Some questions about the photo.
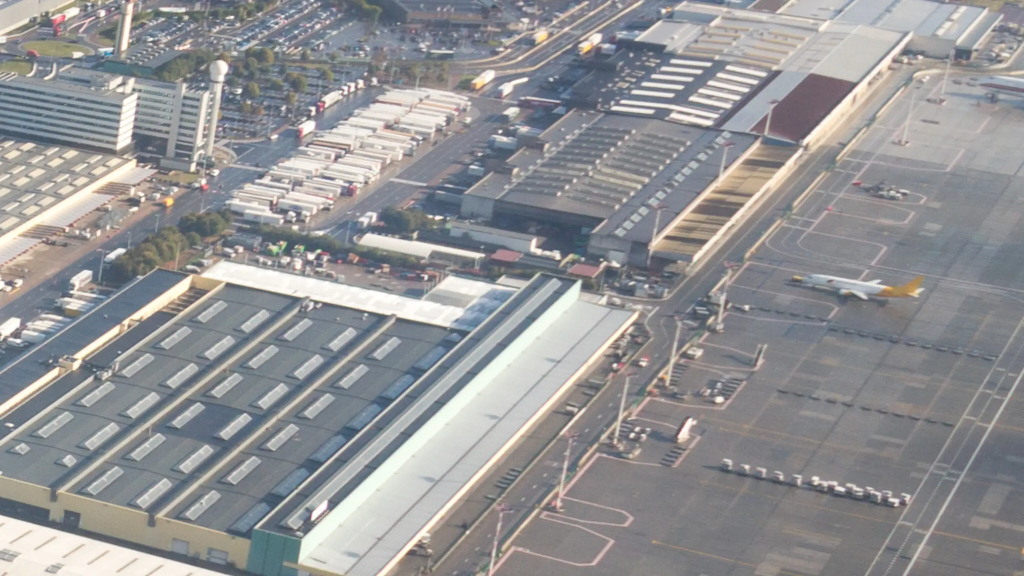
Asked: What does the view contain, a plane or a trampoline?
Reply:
plane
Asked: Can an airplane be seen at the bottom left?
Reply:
No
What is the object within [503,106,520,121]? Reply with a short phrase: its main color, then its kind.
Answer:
white vehicle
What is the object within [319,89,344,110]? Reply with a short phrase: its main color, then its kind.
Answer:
white truck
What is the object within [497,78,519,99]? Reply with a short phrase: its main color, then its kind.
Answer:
white truck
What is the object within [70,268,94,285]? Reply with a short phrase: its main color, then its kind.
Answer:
white vehicle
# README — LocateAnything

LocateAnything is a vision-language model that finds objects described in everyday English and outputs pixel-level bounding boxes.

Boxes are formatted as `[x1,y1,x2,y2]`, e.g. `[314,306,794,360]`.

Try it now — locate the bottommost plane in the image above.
[802,272,930,307]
